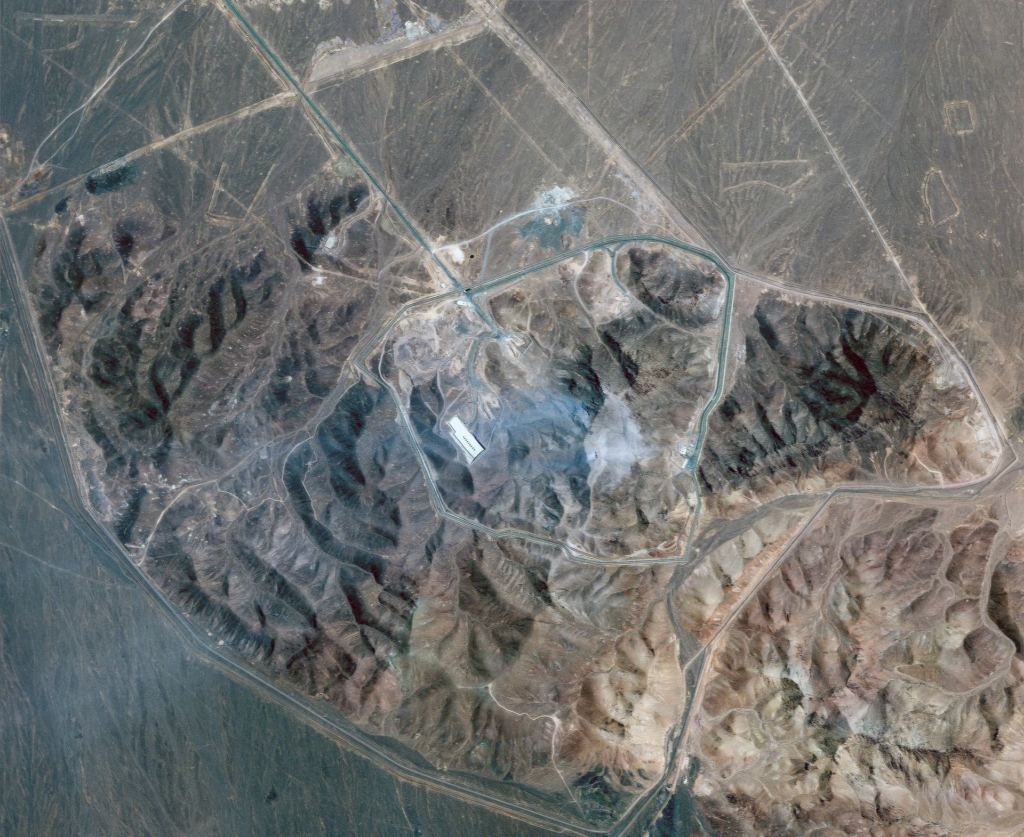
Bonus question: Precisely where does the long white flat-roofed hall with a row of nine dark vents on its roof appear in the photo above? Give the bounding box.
[448,415,486,464]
